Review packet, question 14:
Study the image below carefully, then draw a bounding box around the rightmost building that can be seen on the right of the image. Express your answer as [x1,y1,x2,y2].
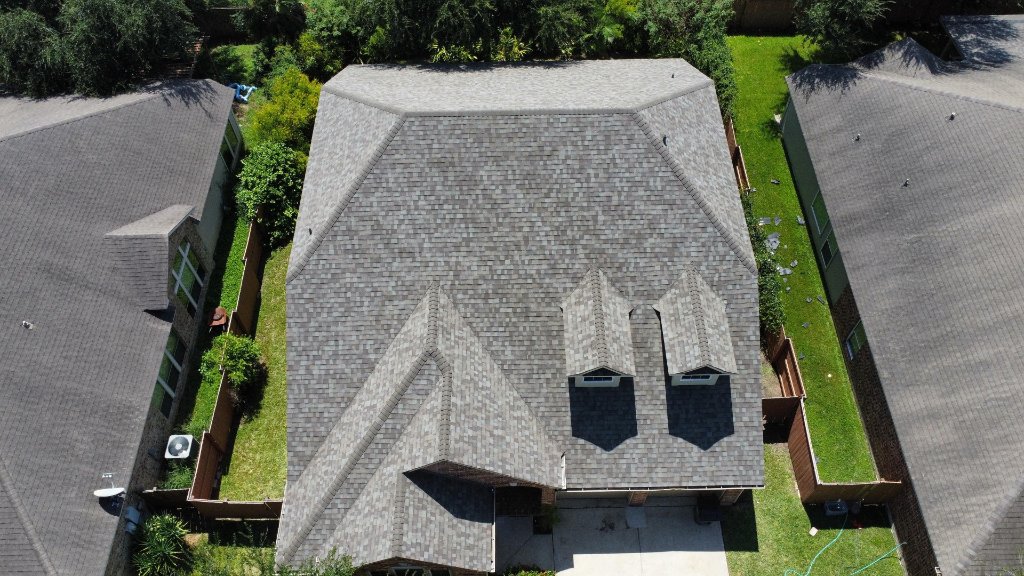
[781,17,1024,576]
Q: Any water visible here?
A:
No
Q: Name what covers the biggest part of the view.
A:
buildings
